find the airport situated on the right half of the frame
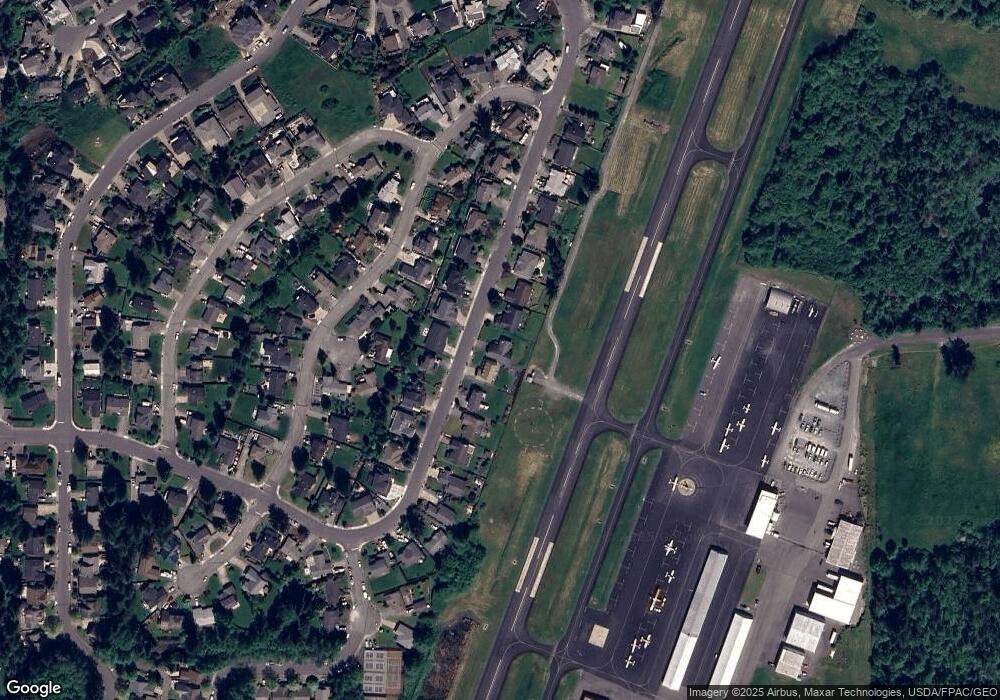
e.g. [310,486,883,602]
[415,0,862,700]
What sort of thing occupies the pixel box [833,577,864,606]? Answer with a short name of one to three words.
building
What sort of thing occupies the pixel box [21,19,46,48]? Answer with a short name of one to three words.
house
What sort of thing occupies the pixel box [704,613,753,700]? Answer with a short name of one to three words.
hangar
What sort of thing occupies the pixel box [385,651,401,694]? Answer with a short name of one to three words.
tennis court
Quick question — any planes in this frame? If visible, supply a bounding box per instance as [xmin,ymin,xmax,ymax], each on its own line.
[651,590,663,608]
[641,634,650,648]
[633,638,642,652]
[762,454,771,468]
[772,421,781,435]
[627,654,636,669]
[669,476,679,491]
[736,419,745,432]
[711,357,722,370]
[666,569,674,583]
[743,401,751,415]
[667,540,677,556]
[727,423,735,437]
[720,438,730,454]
